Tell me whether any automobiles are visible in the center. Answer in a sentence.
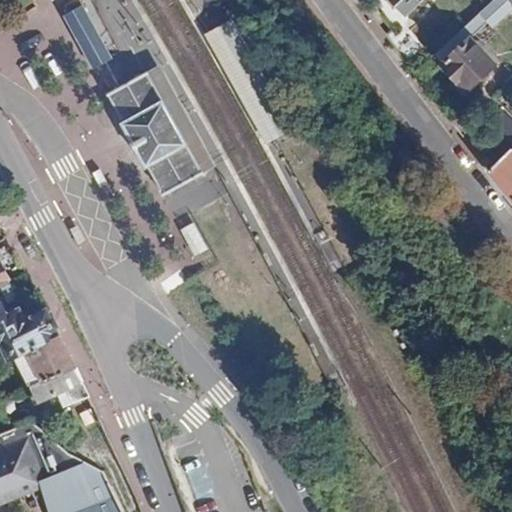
No, there is no automobile in the center.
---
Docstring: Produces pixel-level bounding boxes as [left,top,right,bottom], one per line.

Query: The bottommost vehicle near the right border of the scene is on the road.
[487,189,506,210]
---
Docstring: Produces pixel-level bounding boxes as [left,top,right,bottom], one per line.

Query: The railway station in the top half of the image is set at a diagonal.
[106,0,357,406]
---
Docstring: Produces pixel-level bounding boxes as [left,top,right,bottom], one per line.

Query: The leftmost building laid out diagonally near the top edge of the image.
[62,6,124,90]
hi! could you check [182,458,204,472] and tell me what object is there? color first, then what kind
white car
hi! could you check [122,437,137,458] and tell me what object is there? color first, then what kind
white car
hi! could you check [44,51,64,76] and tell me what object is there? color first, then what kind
white vehicle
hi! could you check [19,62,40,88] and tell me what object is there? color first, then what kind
white vehicle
